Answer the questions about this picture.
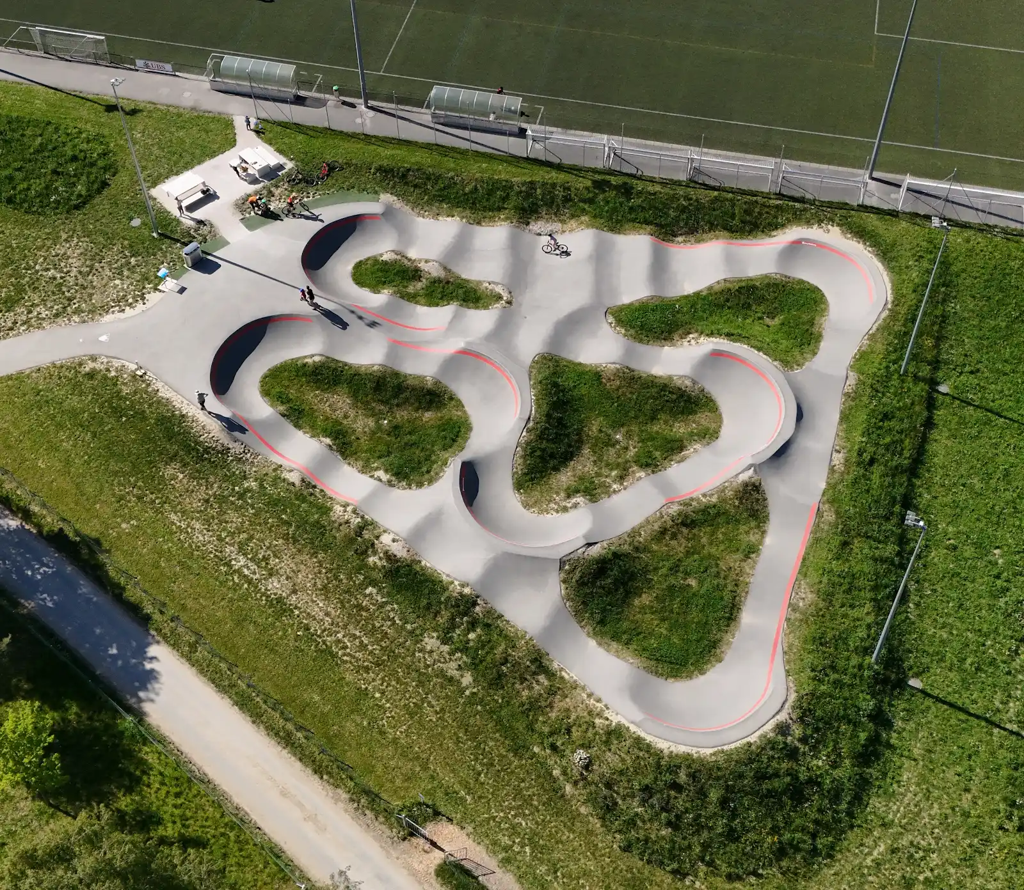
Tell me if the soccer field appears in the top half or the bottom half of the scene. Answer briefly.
top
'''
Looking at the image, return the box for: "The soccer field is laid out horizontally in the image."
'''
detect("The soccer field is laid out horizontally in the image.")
[0,0,1024,193]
